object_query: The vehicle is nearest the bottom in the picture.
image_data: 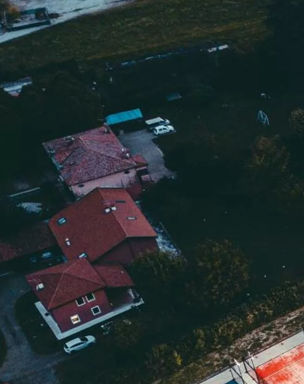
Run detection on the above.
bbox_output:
[61,335,96,354]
